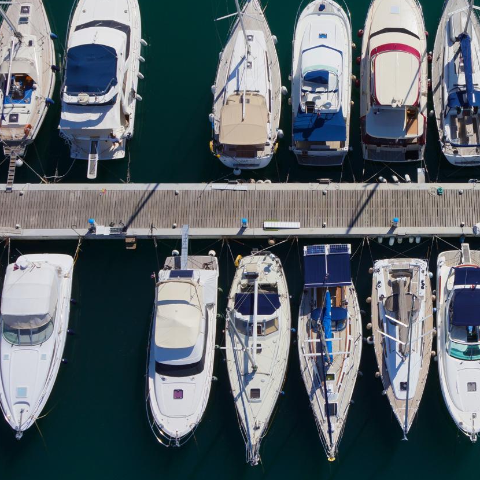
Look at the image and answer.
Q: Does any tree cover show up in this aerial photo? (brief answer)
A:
No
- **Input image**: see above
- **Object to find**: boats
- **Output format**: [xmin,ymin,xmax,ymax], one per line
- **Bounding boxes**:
[212,0,281,167]
[0,248,78,440]
[370,254,435,442]
[290,0,354,166]
[430,0,480,167]
[0,0,53,191]
[434,244,480,442]
[146,225,220,447]
[60,0,142,178]
[297,245,361,463]
[220,248,290,465]
[360,0,428,163]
